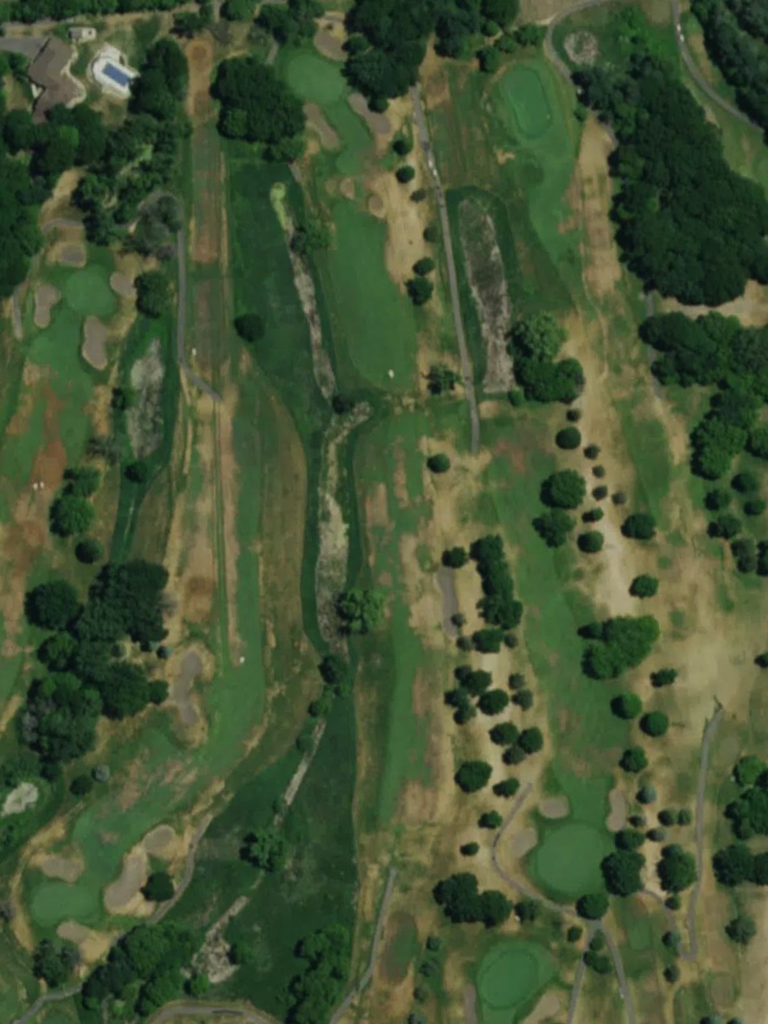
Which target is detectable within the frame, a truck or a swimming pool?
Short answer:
swimming pool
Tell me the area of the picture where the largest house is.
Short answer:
top left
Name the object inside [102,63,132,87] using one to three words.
swimming pool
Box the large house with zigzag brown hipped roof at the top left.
[29,37,78,119]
